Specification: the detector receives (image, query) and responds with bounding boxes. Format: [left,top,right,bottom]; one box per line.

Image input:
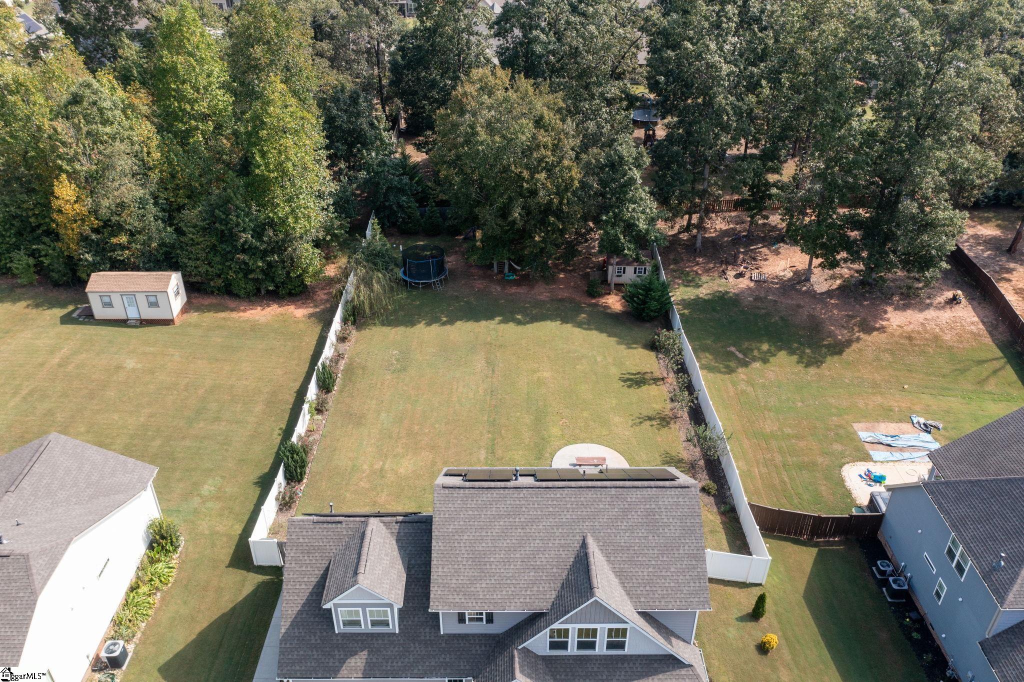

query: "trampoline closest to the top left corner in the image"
[401,245,449,293]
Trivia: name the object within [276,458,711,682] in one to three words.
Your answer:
house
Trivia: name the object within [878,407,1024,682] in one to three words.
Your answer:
house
